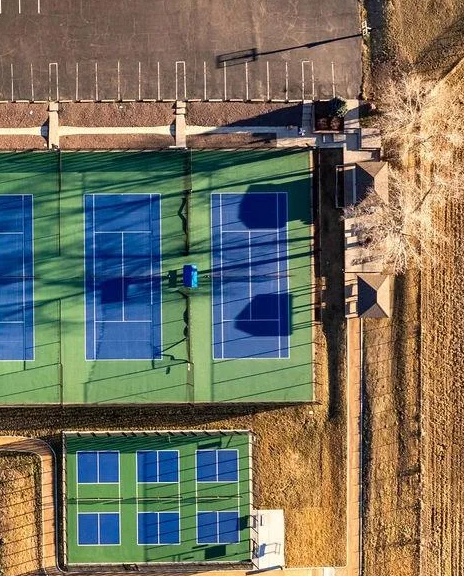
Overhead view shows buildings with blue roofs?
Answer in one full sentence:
No, there isn't any building with a blue roof down there.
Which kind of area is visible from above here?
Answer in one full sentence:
What you see here is a sports ground.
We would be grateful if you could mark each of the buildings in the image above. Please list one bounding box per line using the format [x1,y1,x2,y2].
[353,274,390,318]
[328,161,388,208]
